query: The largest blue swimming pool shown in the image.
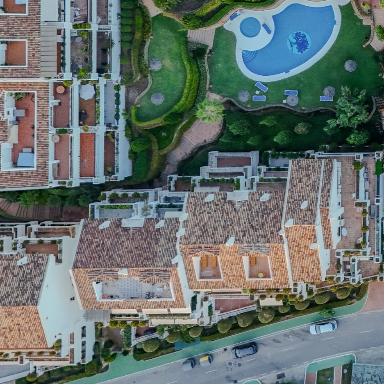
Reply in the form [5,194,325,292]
[241,3,336,76]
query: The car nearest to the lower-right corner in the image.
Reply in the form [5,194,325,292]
[307,319,337,338]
